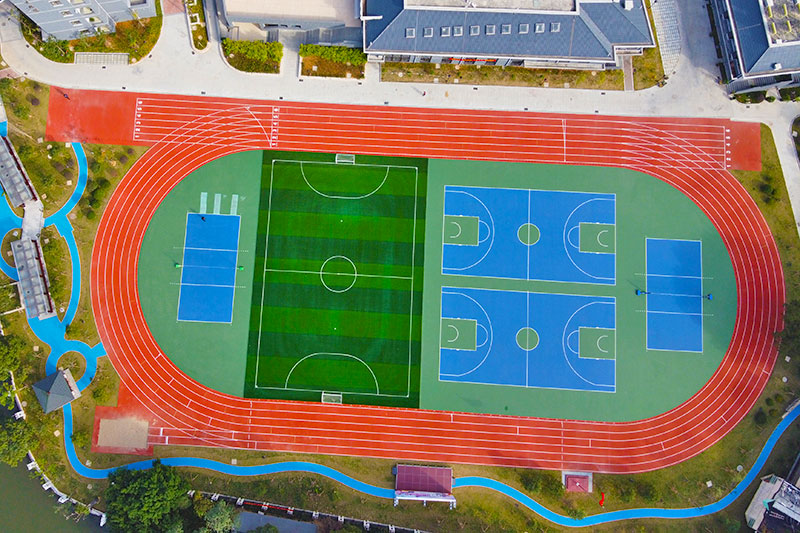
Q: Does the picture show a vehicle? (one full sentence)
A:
No, the scene contains no vehicle.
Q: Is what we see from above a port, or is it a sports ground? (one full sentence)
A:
What you see here is a sports ground.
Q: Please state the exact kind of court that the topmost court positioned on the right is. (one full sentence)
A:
What you see as the topmost court positioned on the right is a basketball court.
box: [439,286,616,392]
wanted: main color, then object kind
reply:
blue basketball court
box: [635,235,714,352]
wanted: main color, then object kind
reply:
blue sports court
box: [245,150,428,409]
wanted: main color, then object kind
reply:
green soccer field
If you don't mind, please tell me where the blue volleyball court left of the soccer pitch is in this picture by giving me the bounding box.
[170,210,249,323]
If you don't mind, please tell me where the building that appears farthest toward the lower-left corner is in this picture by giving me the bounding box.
[32,368,81,414]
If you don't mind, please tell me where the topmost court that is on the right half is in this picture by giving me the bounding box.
[441,185,616,285]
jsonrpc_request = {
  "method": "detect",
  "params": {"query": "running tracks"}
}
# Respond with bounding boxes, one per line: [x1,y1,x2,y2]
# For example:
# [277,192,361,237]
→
[45,85,788,474]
